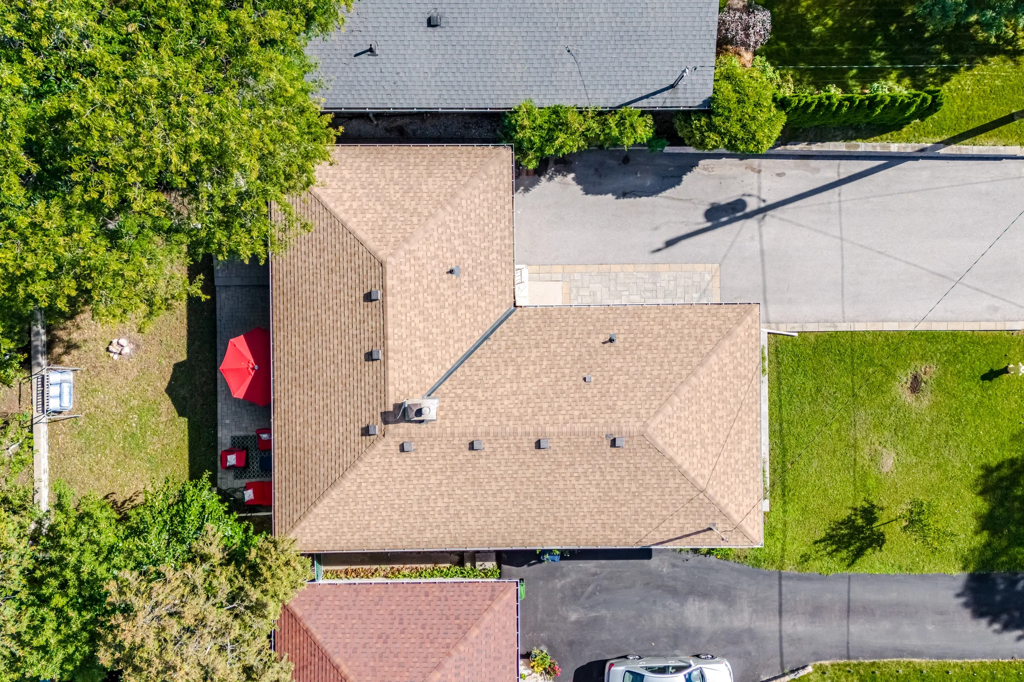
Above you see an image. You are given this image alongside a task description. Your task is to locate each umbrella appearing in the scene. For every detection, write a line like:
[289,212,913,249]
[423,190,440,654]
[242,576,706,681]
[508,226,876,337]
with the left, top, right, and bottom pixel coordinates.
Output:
[219,324,271,408]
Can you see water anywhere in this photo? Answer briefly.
No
